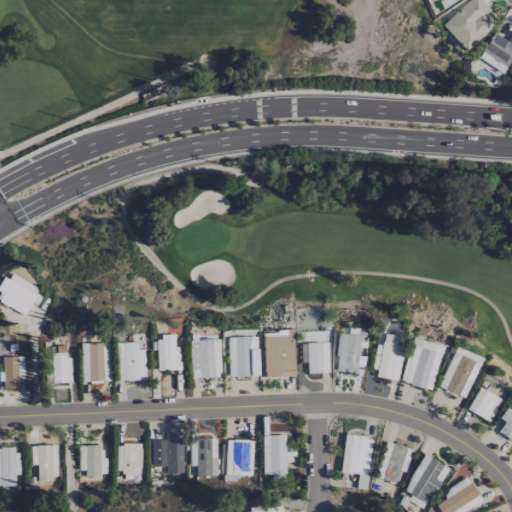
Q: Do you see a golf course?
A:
Yes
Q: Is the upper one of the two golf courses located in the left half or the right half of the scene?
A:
left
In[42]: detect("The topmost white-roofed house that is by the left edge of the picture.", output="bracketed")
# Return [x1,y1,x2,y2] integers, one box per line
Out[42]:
[0,275,40,314]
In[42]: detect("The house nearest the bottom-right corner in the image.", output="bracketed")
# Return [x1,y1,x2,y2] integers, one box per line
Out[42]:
[430,477,484,512]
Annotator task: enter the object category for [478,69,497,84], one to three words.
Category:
swimming pool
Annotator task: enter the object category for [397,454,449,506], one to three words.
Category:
house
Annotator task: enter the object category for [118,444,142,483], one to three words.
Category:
house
